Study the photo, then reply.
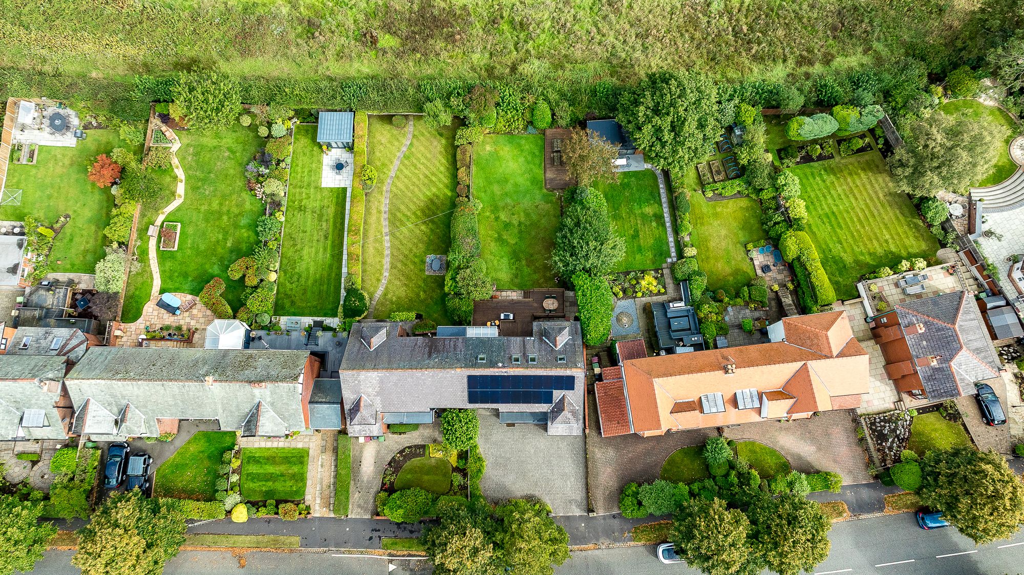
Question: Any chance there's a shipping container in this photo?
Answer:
No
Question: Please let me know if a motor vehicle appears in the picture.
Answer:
Yes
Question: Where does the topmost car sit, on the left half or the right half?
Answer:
right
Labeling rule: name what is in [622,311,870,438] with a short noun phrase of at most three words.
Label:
house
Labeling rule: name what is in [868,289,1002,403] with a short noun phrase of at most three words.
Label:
house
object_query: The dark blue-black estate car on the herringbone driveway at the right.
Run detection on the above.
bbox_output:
[971,381,1007,430]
